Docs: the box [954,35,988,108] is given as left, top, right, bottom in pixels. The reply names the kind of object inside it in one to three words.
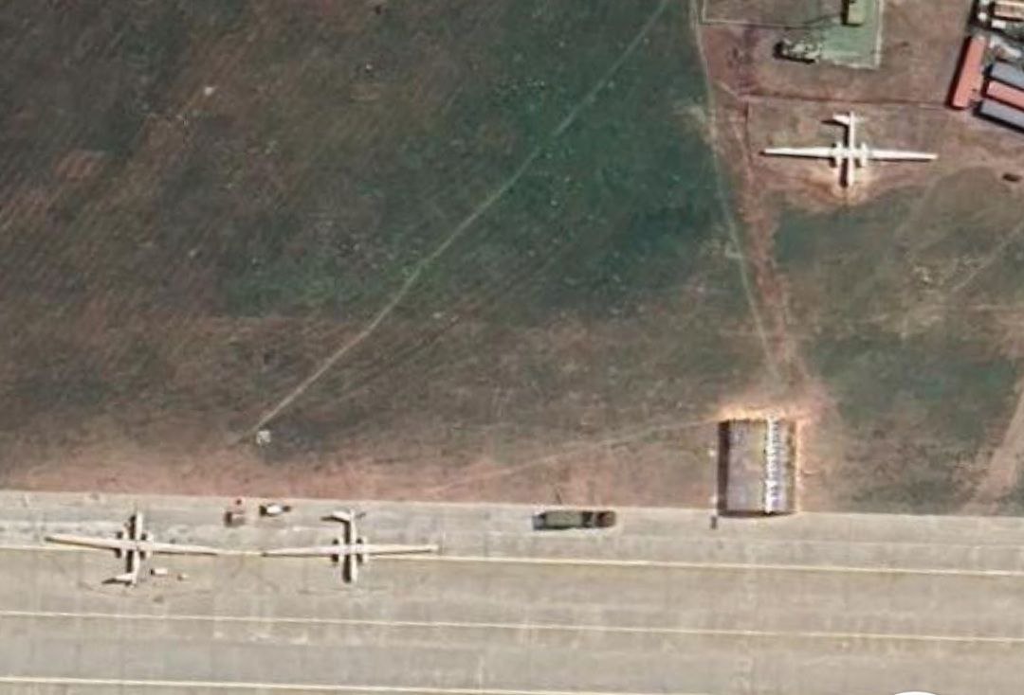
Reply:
building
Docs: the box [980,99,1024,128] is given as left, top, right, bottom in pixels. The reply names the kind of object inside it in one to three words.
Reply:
building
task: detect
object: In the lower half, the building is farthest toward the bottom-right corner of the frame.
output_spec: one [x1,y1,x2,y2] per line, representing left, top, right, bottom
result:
[728,419,797,513]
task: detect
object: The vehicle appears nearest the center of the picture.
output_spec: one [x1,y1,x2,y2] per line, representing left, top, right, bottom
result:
[534,510,618,529]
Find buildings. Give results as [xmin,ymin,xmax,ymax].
[850,0,866,23]
[980,99,1024,128]
[987,80,1024,104]
[954,35,988,108]
[728,419,797,513]
[991,62,1024,85]
[994,0,1024,17]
